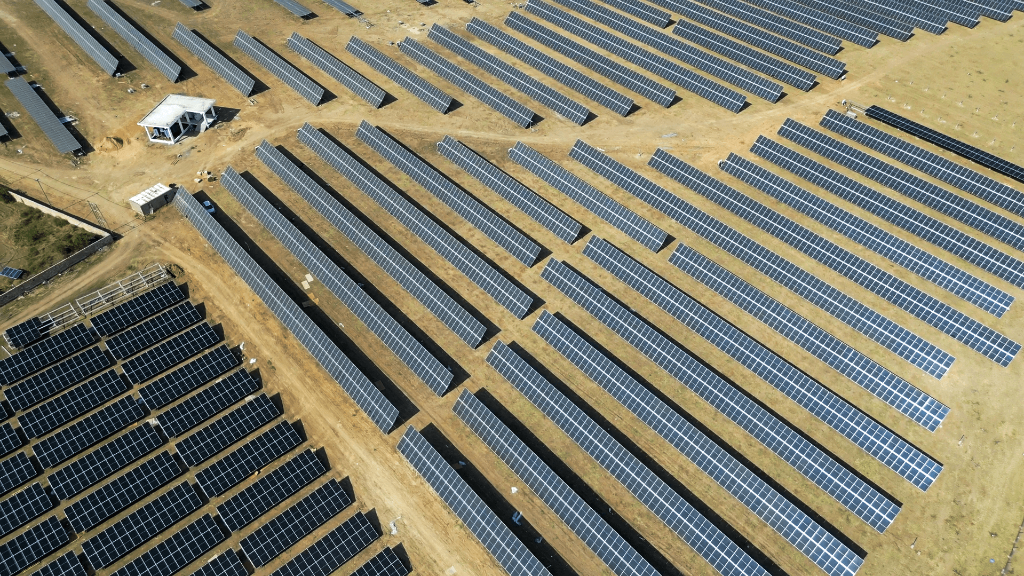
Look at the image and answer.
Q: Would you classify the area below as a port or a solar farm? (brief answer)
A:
solar farm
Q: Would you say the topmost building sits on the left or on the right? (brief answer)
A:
left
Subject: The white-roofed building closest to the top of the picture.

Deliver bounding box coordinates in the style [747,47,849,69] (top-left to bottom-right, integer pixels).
[138,94,218,143]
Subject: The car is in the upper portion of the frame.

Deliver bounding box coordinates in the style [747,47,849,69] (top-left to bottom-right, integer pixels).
[202,201,216,214]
